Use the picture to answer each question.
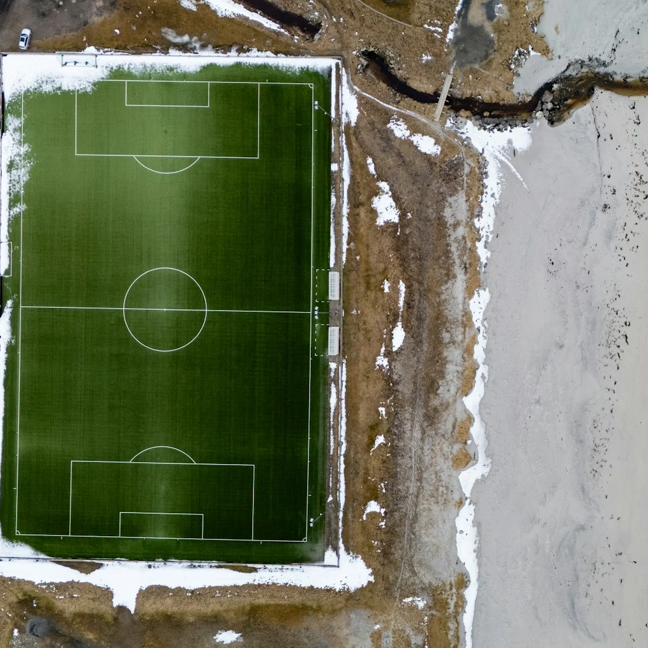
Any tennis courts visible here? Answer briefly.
No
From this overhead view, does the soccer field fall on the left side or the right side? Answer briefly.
left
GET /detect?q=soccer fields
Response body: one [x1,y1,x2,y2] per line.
[0,55,332,565]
